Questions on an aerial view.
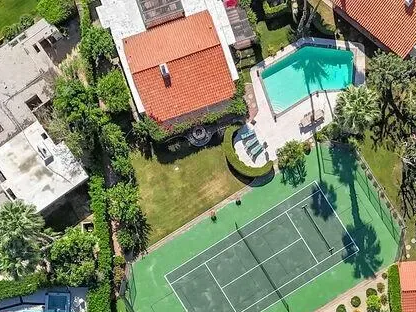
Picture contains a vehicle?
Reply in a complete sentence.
No, the scene contains no vehicle.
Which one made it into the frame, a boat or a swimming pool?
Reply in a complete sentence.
It is a swimming pool that can be seen here.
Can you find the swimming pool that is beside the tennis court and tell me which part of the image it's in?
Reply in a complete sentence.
The swimming pool that is beside the tennis court sits in the top right section of the image.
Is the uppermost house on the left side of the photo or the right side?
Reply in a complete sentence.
The uppermost house is on the right side of the image.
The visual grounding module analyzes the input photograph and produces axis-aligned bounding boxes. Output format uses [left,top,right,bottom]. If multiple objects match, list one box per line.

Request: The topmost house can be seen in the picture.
[333,0,416,62]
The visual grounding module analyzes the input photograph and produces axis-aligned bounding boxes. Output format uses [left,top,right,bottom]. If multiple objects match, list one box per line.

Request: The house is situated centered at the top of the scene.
[95,0,238,126]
